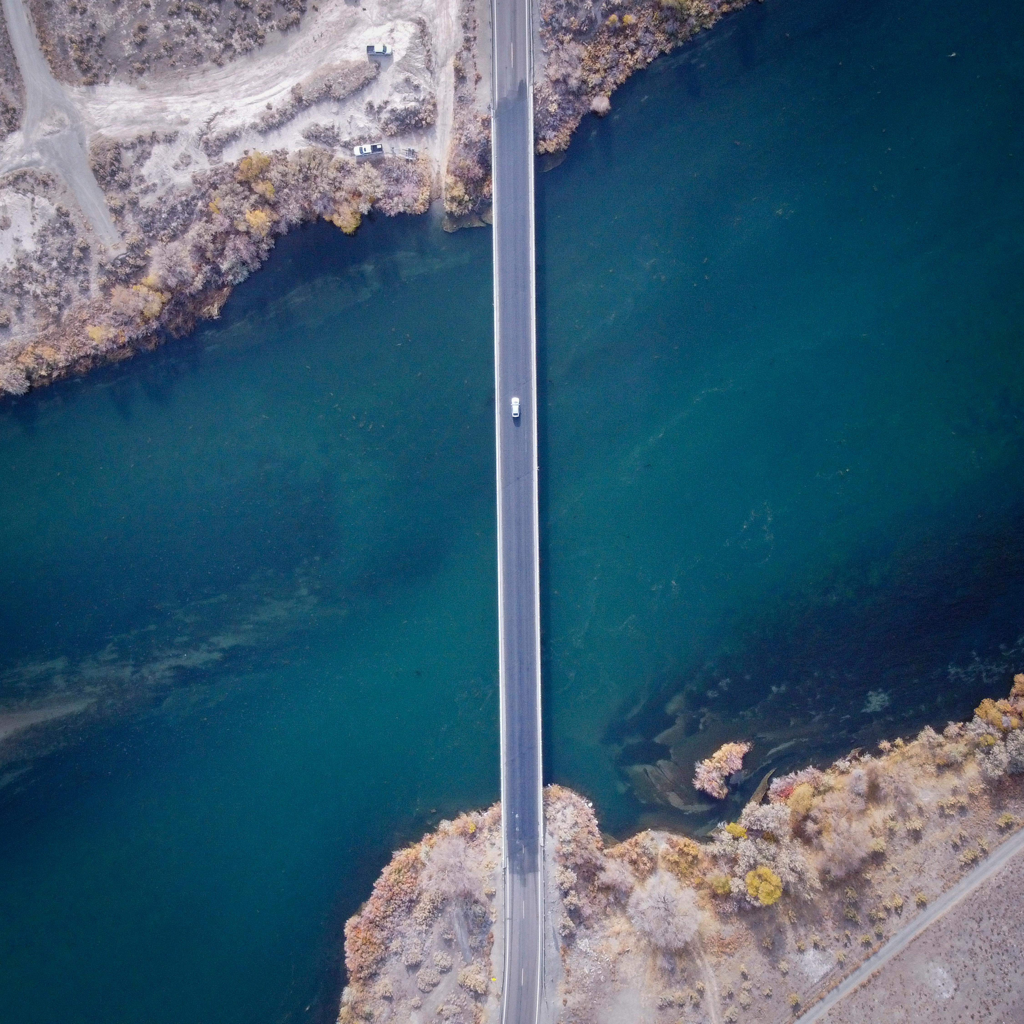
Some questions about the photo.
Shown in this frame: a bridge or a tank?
bridge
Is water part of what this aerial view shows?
Yes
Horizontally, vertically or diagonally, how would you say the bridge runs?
vertically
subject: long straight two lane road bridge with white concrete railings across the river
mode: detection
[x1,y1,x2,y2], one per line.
[491,80,544,887]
